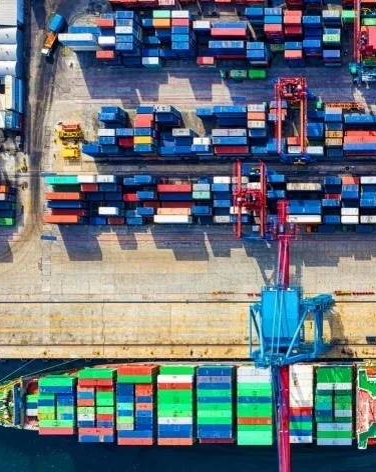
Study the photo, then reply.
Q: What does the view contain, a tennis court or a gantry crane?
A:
gantry crane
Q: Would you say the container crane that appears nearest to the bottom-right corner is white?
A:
No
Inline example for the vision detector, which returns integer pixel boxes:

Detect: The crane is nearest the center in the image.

[234,160,279,241]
